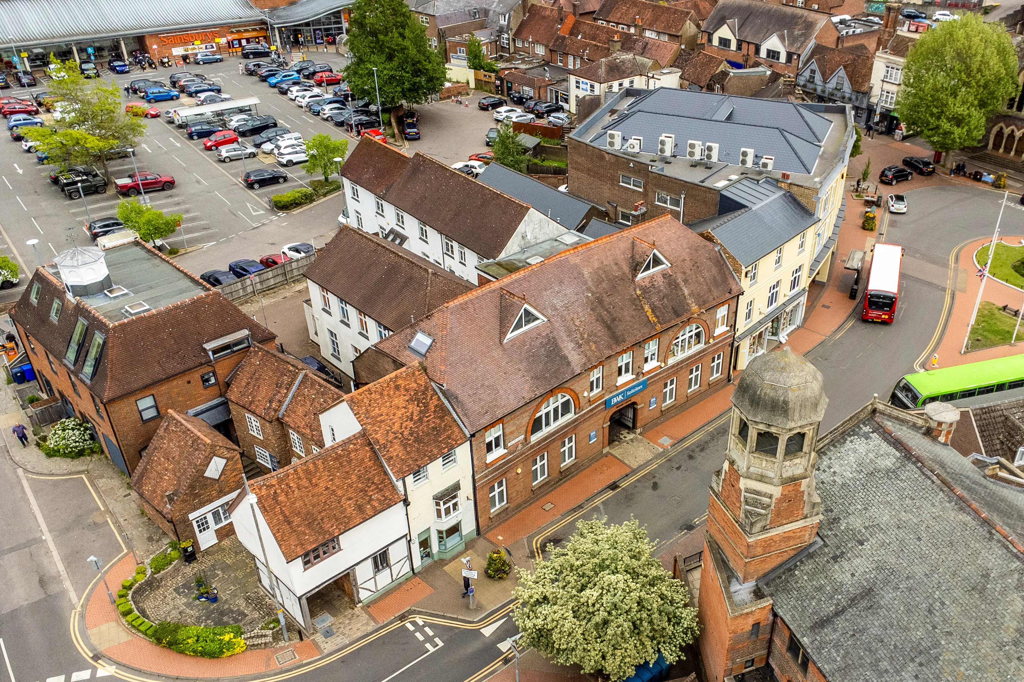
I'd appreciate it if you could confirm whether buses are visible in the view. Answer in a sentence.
Yes, this view includes a bus.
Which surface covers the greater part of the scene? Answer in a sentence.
Most of the picture is covered by buildings.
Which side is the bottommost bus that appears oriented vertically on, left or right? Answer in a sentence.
The bottommost bus that appears oriented vertically is on the right side of the image.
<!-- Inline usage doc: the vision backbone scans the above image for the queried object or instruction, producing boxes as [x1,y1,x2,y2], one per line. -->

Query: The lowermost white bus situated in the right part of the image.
[861,244,906,326]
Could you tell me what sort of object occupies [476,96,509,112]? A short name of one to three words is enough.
car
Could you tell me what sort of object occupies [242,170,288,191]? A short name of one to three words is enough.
car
